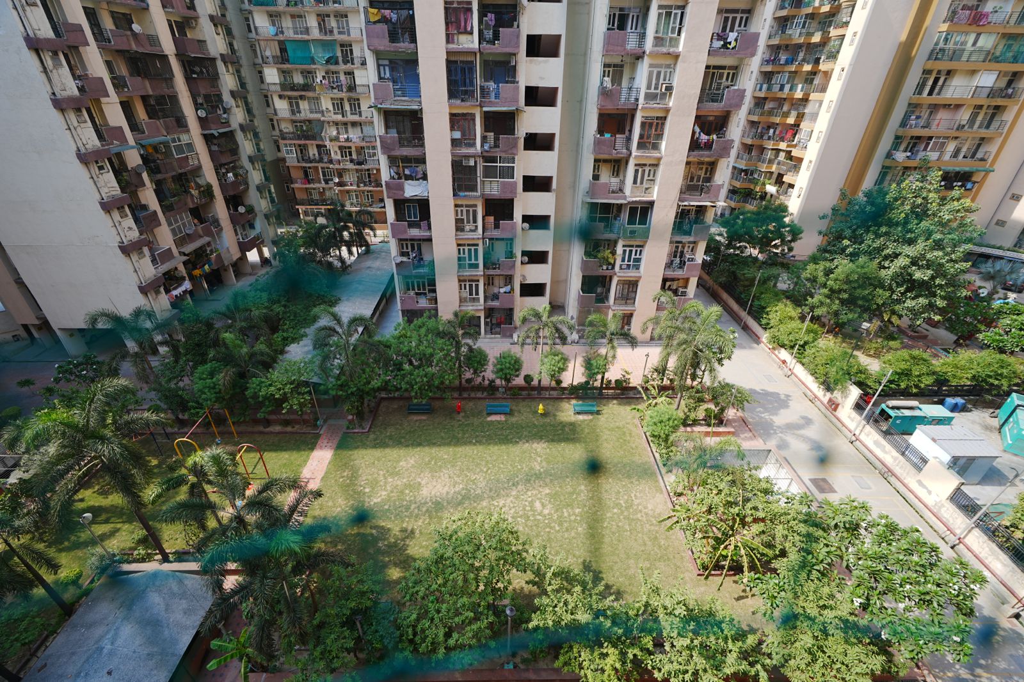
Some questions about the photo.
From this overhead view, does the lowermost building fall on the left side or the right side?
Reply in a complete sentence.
You can find the lowermost building on the left side of the picture.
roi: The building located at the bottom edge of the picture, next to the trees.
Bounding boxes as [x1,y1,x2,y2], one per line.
[15,573,237,682]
